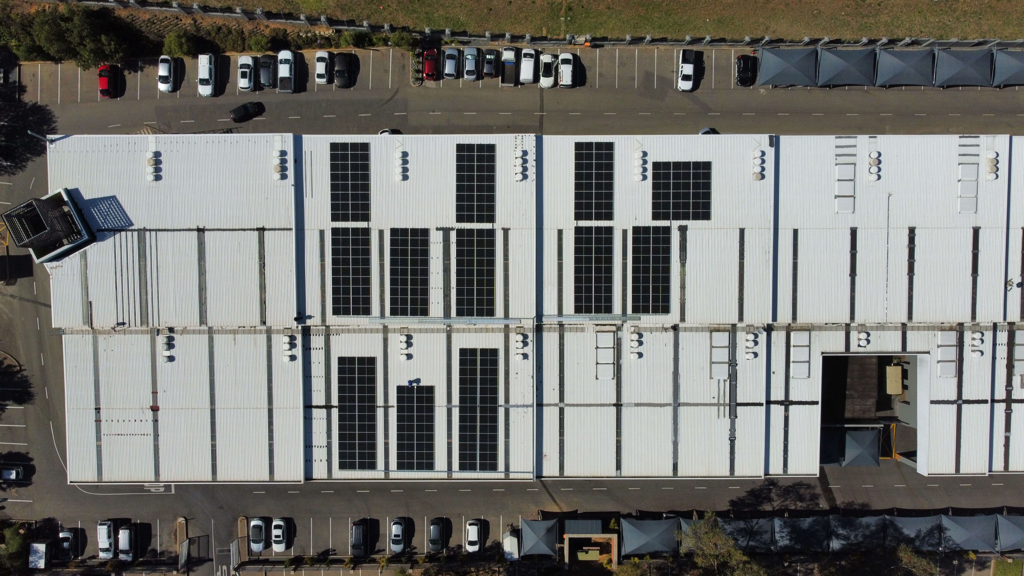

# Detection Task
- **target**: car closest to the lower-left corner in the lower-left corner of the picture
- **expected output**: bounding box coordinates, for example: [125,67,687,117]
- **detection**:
[57,526,78,562]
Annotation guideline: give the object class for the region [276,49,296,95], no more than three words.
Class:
vehicle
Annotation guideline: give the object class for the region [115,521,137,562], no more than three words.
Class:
car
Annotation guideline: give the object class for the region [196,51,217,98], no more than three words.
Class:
truck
